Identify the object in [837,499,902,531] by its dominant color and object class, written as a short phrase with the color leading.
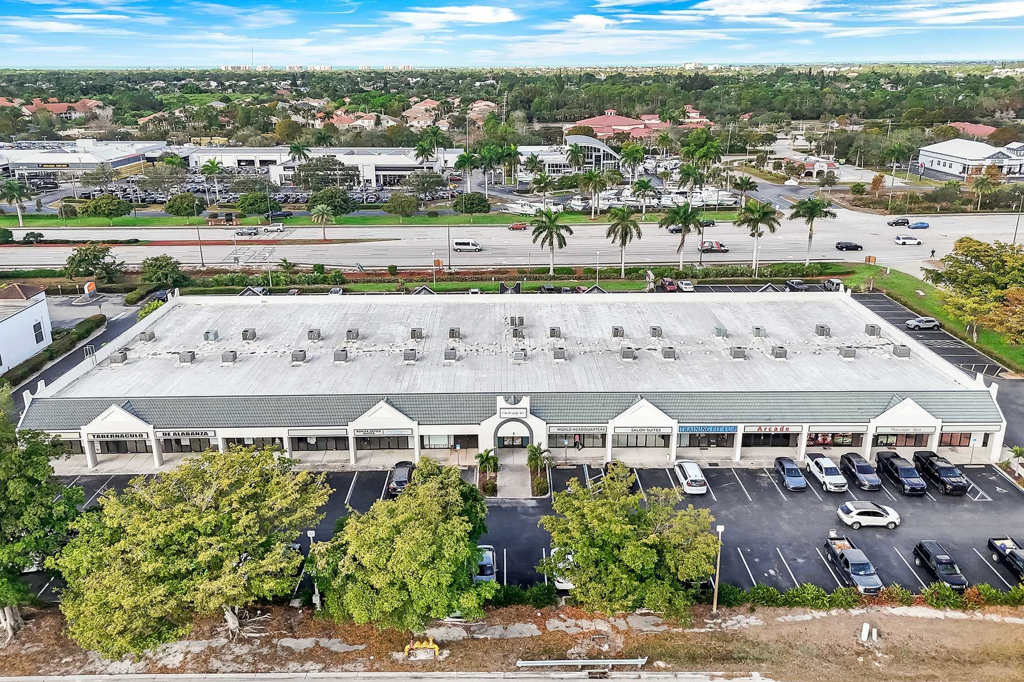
white car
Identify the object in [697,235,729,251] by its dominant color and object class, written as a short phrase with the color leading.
white vehicle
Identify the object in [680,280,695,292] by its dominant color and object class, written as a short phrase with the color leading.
white vehicle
